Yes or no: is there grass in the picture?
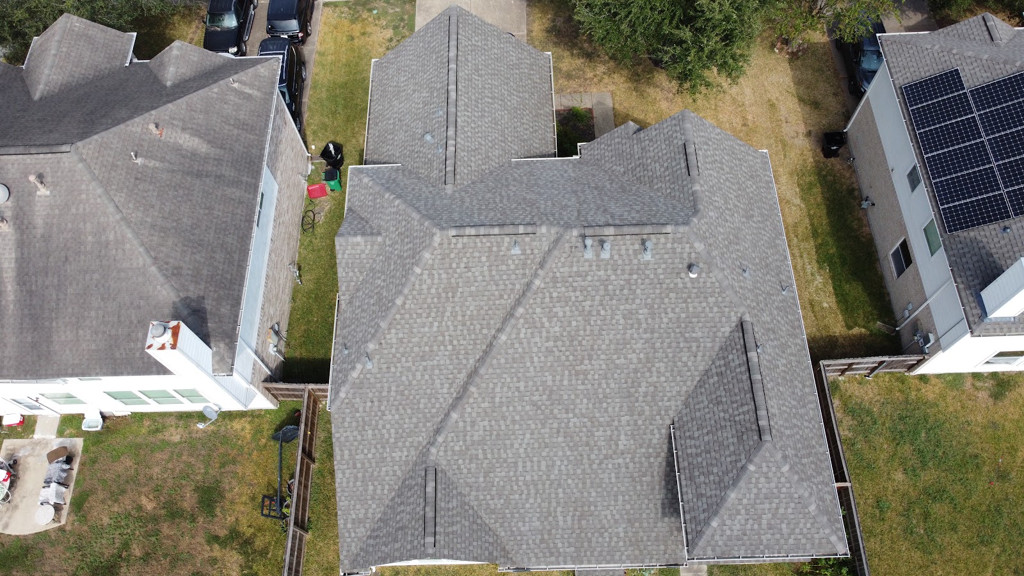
Yes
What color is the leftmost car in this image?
black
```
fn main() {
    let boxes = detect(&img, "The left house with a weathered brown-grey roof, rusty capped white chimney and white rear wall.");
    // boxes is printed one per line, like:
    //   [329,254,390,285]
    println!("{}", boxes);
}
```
[0,15,314,416]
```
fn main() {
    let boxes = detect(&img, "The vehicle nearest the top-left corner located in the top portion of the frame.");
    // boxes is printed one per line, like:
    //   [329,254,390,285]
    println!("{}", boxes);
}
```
[200,0,257,62]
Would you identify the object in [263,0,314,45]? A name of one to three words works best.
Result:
car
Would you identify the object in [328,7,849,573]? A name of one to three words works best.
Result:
house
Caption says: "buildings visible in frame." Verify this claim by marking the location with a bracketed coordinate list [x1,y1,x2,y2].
[0,15,314,416]
[839,15,1024,374]
[328,7,849,573]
